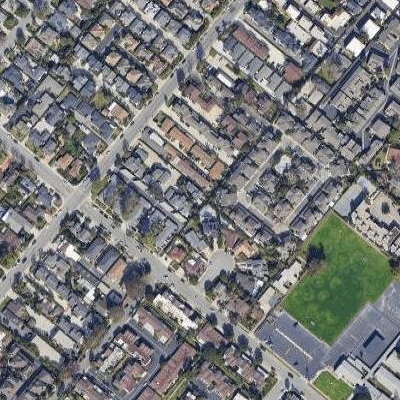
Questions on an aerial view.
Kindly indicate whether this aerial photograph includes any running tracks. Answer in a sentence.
No, I can't see a single running track in this photo.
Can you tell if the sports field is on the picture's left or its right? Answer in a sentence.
It is on the right.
